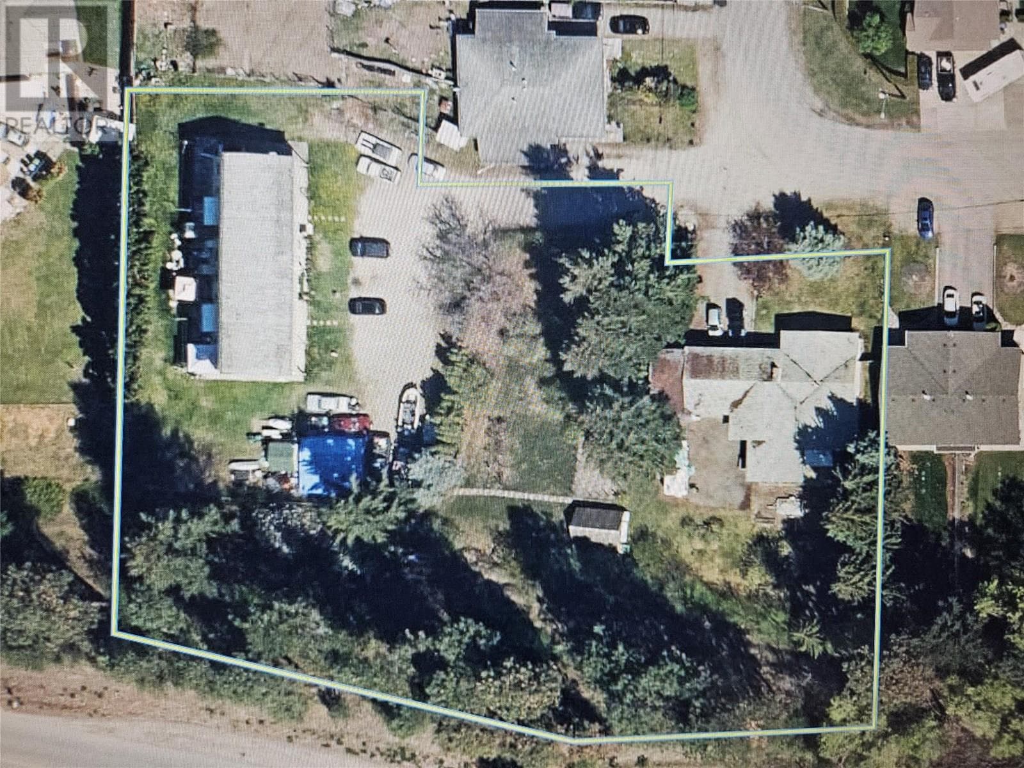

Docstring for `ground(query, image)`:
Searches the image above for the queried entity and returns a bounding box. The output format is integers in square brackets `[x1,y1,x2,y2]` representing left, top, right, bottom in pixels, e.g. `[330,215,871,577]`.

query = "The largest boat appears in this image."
[398,379,421,436]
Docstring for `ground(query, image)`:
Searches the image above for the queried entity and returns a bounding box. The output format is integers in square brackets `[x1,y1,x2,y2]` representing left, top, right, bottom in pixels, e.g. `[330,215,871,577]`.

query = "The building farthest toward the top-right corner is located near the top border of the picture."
[905,0,999,52]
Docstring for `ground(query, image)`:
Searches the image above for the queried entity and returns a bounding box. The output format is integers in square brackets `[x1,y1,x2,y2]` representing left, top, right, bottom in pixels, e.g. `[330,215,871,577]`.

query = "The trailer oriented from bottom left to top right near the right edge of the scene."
[959,43,1024,95]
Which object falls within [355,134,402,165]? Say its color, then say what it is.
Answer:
white truck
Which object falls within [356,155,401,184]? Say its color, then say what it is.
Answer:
white van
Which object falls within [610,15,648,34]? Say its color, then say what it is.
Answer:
black car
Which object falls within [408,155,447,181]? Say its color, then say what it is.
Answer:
white car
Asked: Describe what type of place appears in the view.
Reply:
residential area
